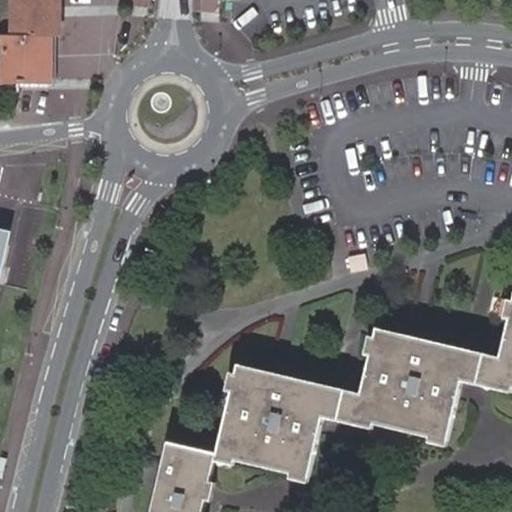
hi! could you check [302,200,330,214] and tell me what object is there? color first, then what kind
white vehicle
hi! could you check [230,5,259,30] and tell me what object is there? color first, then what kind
white truck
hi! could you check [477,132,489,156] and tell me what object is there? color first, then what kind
white vehicle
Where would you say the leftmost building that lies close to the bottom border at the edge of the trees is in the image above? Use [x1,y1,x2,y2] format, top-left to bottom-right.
[149,442,215,512]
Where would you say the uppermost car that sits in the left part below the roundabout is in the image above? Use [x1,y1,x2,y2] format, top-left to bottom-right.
[112,238,127,262]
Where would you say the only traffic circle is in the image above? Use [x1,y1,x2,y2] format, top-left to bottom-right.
[108,54,228,174]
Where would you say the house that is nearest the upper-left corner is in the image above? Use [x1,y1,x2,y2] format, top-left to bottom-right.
[8,0,62,34]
